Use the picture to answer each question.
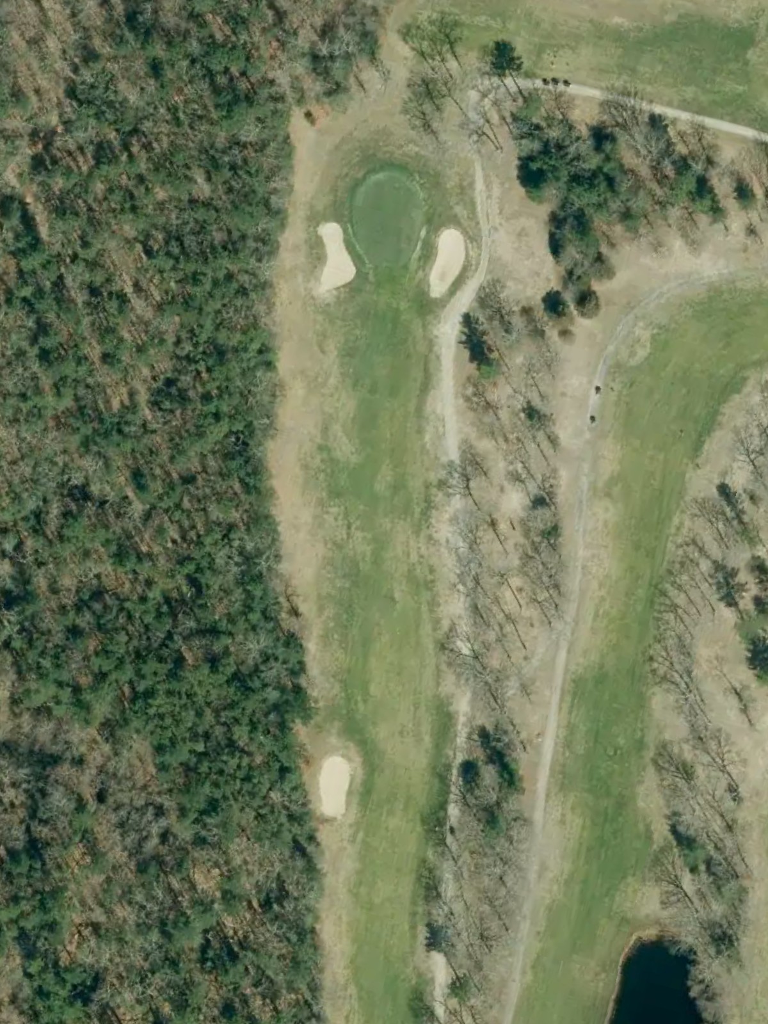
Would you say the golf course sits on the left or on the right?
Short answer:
right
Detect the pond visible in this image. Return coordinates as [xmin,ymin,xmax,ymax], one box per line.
[607,938,703,1024]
